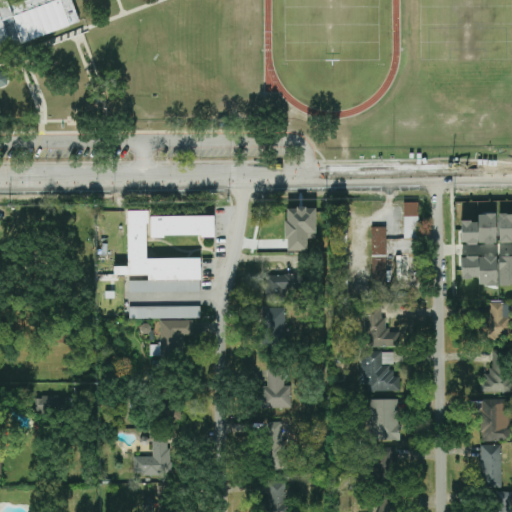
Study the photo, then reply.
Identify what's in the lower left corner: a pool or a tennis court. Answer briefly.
pool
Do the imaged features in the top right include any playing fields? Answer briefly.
Yes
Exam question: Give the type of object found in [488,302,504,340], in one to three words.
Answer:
house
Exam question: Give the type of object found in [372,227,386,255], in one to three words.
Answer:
building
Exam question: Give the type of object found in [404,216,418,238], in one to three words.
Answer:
shed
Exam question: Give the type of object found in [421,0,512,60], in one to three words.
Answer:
sports field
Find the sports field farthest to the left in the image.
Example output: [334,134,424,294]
[285,0,380,60]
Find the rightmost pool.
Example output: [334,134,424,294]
[117,428,152,456]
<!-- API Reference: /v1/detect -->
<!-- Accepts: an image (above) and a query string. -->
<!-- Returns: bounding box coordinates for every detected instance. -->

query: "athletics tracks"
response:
[264,0,400,118]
